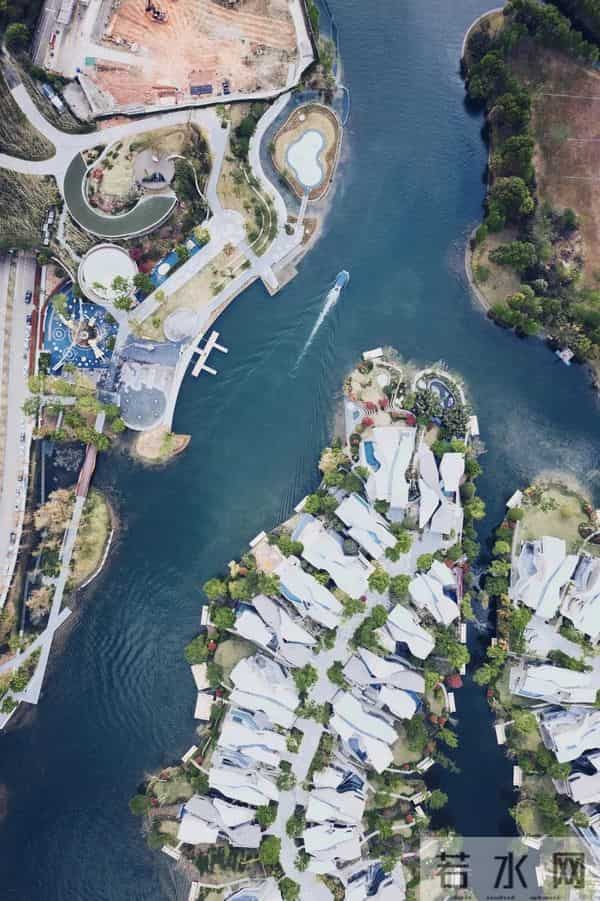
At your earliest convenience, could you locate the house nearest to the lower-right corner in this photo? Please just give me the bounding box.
[563,802,600,874]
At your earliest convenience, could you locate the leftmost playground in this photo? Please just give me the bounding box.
[43,281,118,371]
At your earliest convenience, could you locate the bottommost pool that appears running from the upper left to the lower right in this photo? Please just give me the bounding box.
[348,737,367,762]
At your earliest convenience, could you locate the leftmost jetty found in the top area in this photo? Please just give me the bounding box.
[193,331,228,377]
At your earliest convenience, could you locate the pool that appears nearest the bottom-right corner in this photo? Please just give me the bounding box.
[569,759,598,774]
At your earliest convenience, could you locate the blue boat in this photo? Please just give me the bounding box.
[335,270,348,289]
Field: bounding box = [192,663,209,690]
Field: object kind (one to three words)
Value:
pier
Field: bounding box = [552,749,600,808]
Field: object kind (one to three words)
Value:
house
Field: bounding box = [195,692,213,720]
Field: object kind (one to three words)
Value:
pier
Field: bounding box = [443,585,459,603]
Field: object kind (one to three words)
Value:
swimming pool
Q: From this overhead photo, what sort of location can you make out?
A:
residential area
